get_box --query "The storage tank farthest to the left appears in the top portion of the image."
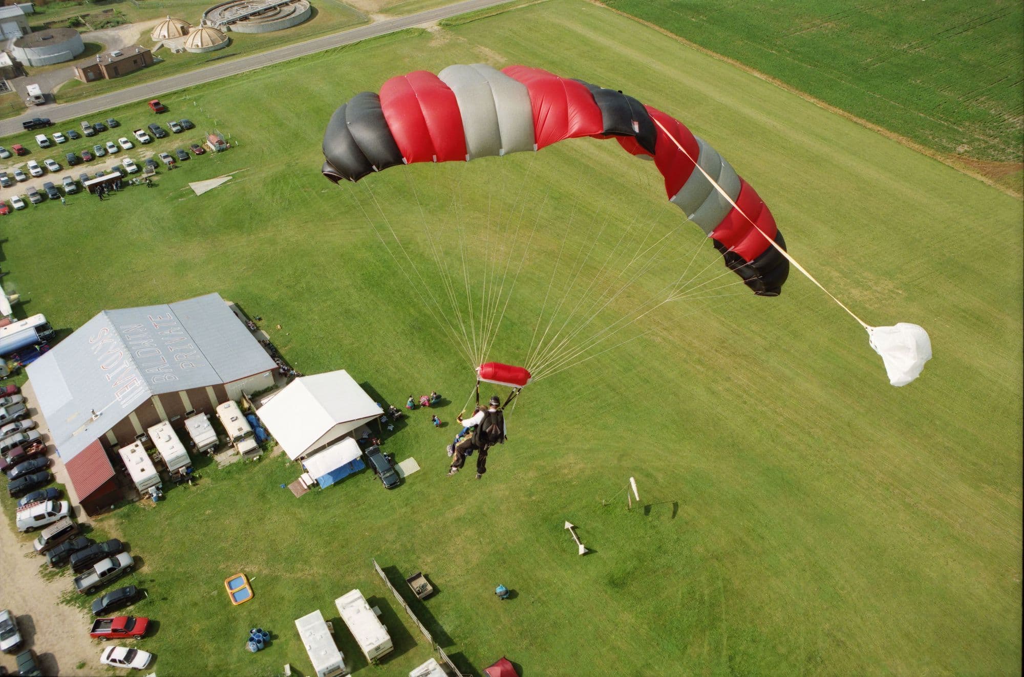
[14,27,84,66]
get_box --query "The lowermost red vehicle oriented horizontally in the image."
[85,614,154,645]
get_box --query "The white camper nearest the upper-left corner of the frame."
[27,84,47,109]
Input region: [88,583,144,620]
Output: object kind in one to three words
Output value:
car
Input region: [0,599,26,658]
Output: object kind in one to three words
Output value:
truck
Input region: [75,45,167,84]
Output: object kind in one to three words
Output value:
building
